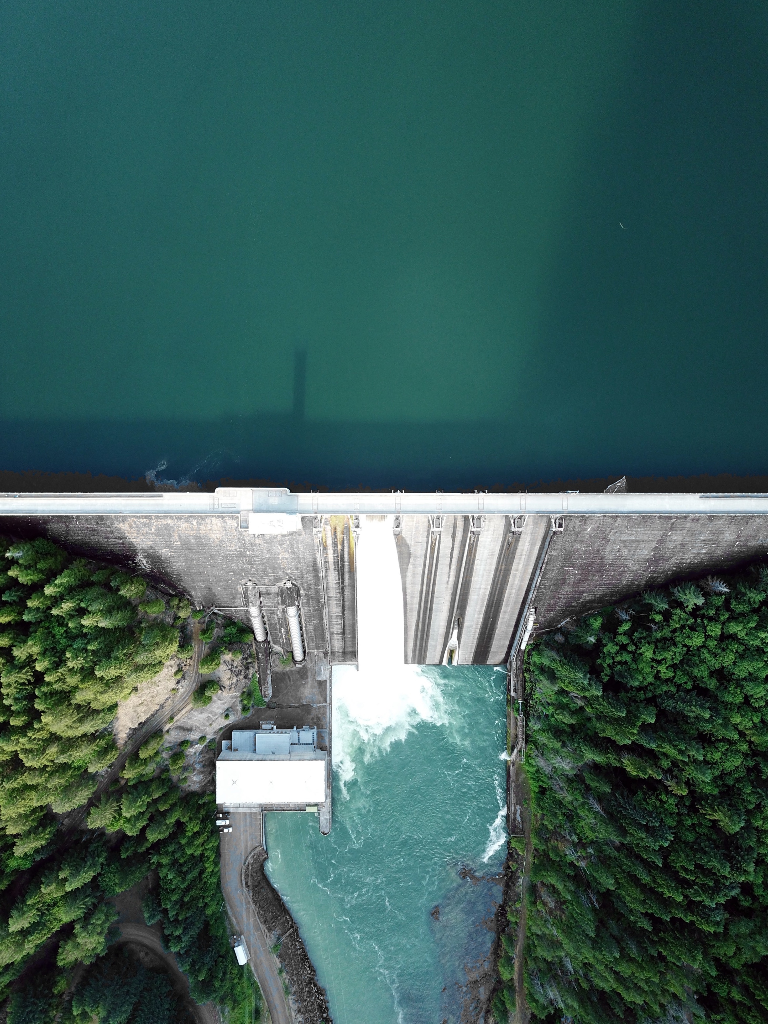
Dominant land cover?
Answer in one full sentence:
The bulk of the photo consists of water.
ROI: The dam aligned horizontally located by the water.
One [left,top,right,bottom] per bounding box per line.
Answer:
[0,487,768,672]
